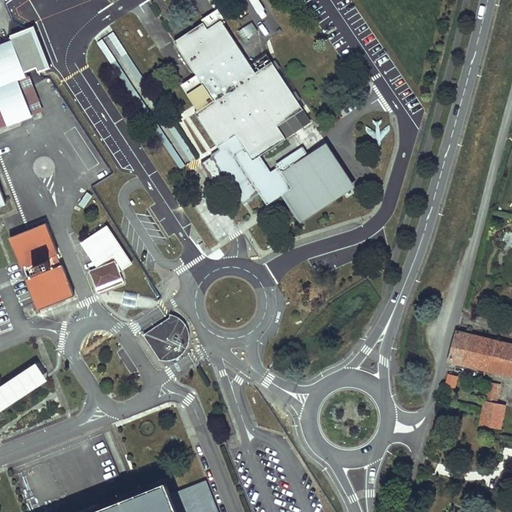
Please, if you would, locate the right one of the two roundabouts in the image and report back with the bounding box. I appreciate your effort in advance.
[300,370,398,468]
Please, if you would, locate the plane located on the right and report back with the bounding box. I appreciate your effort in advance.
[366,116,390,145]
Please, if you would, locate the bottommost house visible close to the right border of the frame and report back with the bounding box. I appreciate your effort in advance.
[480,402,507,431]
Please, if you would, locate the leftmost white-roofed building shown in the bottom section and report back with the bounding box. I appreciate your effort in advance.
[0,363,47,410]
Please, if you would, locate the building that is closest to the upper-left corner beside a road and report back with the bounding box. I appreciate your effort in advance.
[9,24,50,76]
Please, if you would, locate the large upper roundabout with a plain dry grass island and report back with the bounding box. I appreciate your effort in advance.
[186,256,278,348]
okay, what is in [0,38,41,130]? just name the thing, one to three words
building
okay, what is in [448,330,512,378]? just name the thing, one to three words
barn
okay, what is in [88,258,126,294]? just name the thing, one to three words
house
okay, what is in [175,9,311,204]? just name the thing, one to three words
building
